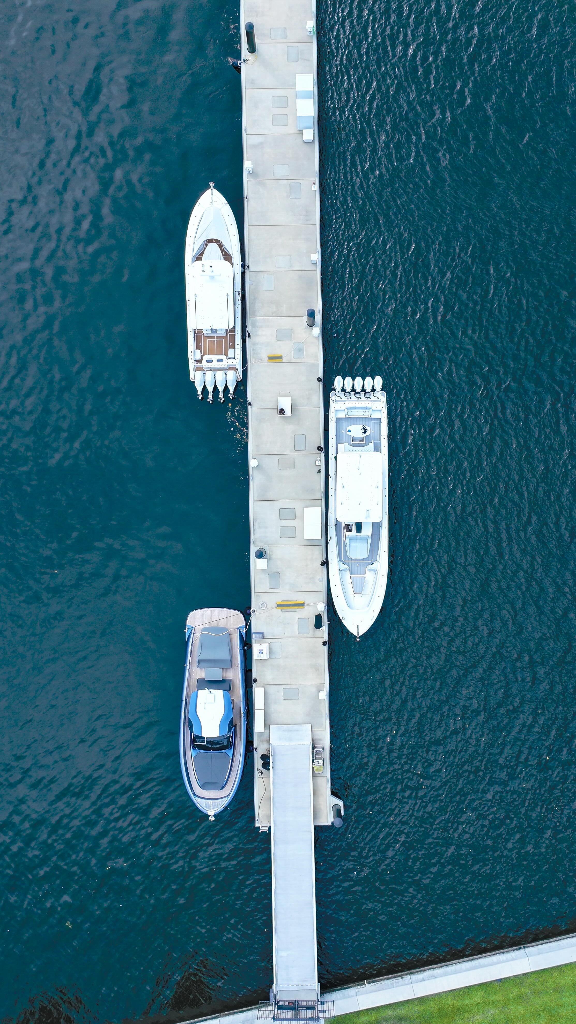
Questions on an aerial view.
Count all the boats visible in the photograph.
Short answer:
3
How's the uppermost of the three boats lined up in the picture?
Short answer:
vertically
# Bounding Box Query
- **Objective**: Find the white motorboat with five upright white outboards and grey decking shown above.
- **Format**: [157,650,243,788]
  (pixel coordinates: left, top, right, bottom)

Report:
[328,377,389,642]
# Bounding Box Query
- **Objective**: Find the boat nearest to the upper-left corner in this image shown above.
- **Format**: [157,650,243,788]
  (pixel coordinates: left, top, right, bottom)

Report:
[185,181,242,404]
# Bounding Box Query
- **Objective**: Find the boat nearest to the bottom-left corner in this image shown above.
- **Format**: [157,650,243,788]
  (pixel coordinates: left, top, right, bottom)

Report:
[178,606,247,821]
